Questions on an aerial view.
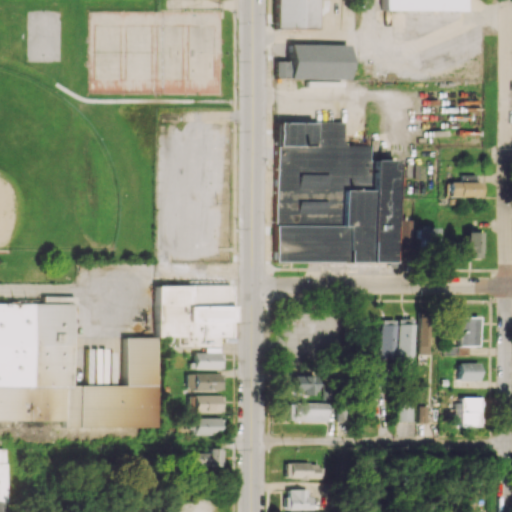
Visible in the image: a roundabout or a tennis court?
tennis court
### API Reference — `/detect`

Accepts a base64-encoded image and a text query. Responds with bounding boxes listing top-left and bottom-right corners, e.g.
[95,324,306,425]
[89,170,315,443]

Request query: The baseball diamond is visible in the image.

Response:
[0,62,115,253]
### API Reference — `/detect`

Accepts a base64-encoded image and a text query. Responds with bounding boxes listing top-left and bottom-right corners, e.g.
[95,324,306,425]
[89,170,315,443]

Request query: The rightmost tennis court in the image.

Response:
[88,11,222,96]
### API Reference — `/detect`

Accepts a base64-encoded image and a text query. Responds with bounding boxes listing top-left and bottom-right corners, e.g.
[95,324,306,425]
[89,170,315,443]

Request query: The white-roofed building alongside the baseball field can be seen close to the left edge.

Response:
[0,296,158,429]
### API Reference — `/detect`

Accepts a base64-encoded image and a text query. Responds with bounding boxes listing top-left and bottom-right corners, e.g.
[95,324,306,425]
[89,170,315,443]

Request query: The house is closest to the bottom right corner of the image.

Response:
[453,397,485,428]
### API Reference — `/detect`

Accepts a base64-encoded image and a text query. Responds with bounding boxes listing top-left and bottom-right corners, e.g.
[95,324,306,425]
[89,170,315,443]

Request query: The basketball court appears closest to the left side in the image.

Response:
[27,11,62,62]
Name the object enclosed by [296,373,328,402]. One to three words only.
house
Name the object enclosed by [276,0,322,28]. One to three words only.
building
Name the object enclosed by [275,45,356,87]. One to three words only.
building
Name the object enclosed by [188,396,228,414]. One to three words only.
house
